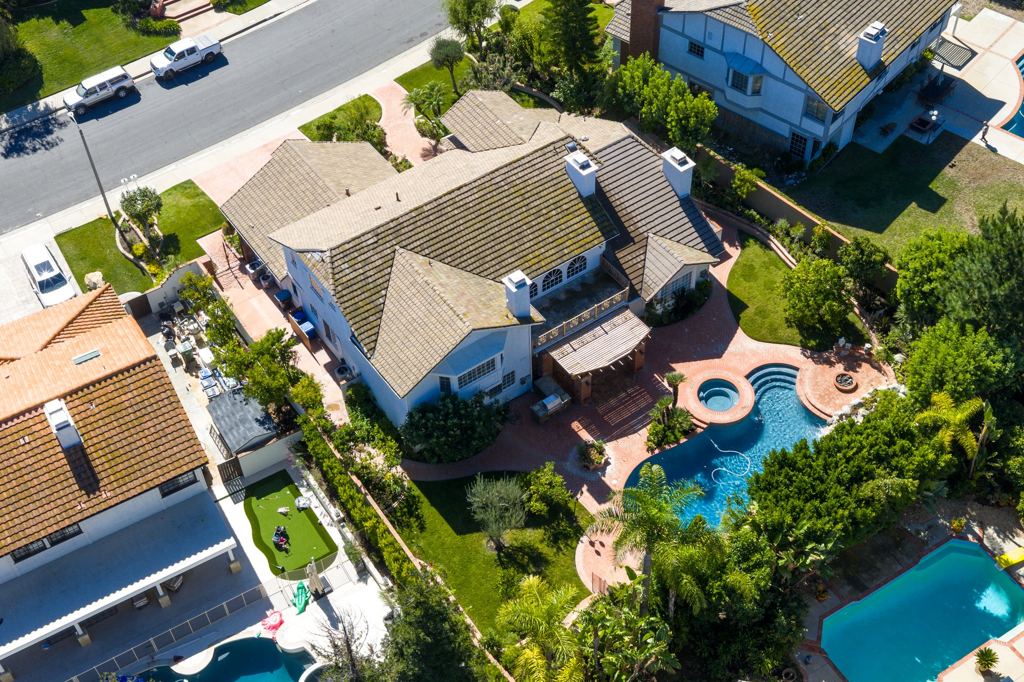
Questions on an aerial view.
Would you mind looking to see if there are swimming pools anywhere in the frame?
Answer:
Yes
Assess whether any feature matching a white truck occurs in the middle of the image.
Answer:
No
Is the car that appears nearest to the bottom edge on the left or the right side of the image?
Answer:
left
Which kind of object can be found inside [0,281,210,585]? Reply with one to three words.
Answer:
house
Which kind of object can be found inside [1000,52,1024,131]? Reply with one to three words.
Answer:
swimming pool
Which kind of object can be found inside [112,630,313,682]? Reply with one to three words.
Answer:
swimming pool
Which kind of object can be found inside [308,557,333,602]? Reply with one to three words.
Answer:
umbrella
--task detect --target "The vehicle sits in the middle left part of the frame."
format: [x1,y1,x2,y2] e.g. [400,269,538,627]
[21,245,75,307]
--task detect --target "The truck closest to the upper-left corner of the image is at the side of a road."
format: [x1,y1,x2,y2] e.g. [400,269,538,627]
[55,59,137,114]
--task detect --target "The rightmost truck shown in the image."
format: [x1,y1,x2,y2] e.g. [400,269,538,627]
[144,31,222,80]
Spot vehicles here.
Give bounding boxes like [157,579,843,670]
[55,59,137,114]
[21,245,75,307]
[144,31,222,80]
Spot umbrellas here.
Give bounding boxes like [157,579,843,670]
[936,60,945,86]
[308,557,333,602]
